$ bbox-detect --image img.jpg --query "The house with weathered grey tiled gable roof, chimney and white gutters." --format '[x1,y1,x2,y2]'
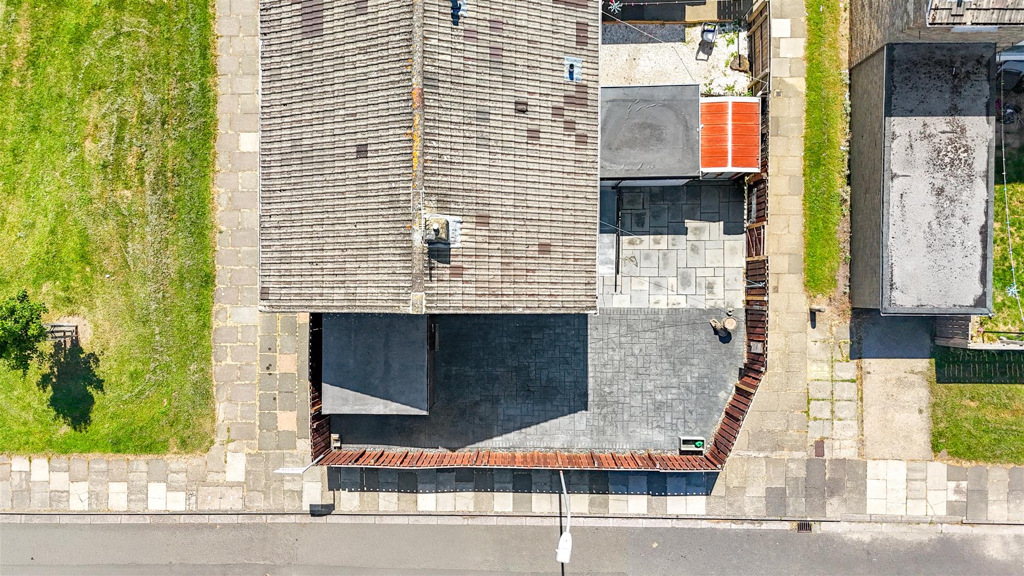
[257,0,602,317]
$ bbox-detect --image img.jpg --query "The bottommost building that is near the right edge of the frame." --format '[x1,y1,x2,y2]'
[851,43,997,319]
